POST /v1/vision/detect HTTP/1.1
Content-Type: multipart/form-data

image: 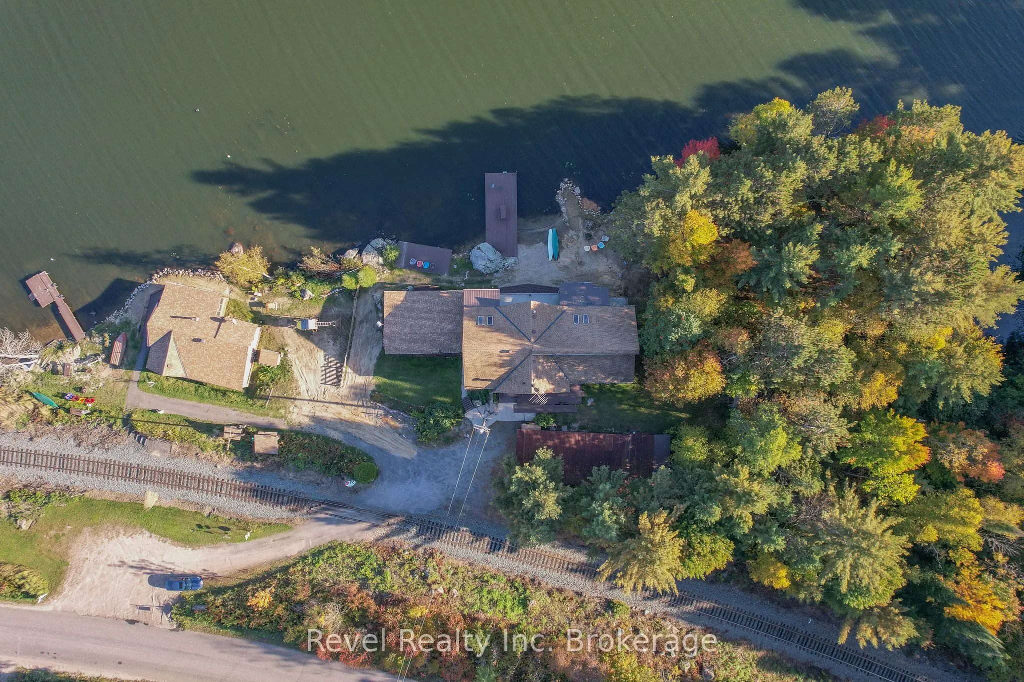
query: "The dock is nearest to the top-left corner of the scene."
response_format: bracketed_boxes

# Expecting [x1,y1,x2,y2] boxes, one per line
[23,271,86,342]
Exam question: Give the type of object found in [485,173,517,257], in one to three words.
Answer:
pier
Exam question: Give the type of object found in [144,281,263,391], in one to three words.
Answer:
house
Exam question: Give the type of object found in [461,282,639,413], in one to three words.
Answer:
house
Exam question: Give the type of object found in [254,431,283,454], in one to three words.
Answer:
shed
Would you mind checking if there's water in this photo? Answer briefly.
Yes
